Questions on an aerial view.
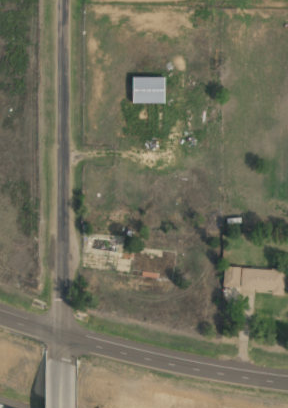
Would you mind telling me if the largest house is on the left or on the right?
right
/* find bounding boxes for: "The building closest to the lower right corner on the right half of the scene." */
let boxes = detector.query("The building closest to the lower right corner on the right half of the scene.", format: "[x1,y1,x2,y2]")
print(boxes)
[223,266,284,296]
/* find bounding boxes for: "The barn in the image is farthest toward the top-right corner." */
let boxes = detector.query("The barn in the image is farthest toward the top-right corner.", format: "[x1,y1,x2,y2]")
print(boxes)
[132,76,165,104]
